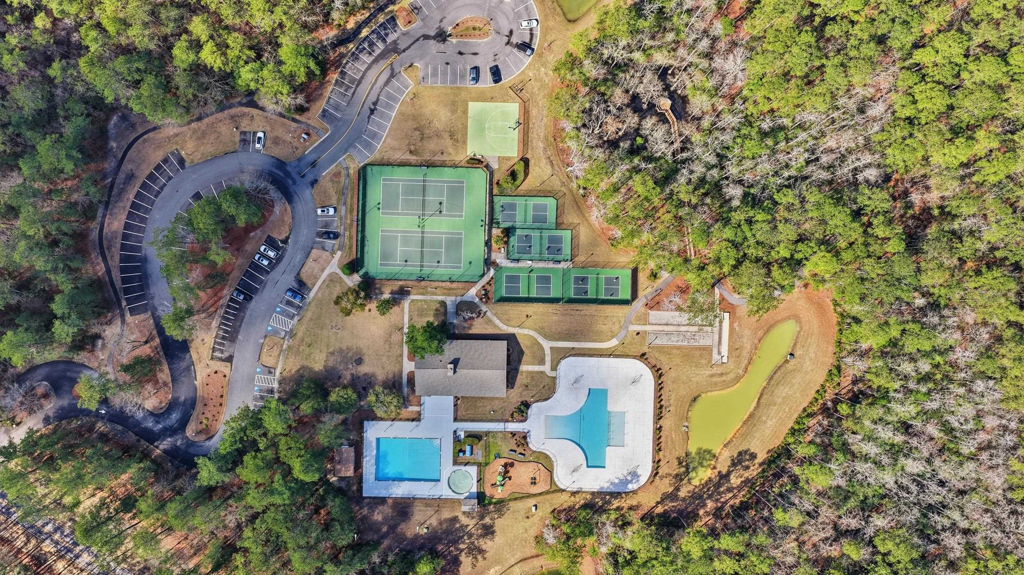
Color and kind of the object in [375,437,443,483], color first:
blue swimming pool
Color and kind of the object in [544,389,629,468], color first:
blue swimming pool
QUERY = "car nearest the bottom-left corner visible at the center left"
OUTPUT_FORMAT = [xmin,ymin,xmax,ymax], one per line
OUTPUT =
[233,290,248,302]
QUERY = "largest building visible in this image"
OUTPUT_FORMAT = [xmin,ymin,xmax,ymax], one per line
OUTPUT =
[415,339,507,397]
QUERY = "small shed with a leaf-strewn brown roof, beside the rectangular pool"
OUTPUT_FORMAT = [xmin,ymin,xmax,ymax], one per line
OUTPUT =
[334,446,355,477]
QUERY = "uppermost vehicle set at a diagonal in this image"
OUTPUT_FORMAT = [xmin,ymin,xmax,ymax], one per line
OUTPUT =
[516,41,535,56]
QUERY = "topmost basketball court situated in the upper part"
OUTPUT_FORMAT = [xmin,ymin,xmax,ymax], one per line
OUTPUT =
[467,102,519,156]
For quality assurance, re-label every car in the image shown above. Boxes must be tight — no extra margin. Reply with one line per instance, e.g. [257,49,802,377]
[321,232,339,240]
[490,65,501,83]
[520,18,538,28]
[286,289,302,301]
[254,254,270,266]
[317,207,335,215]
[233,290,248,302]
[256,131,265,149]
[260,245,277,258]
[470,66,478,84]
